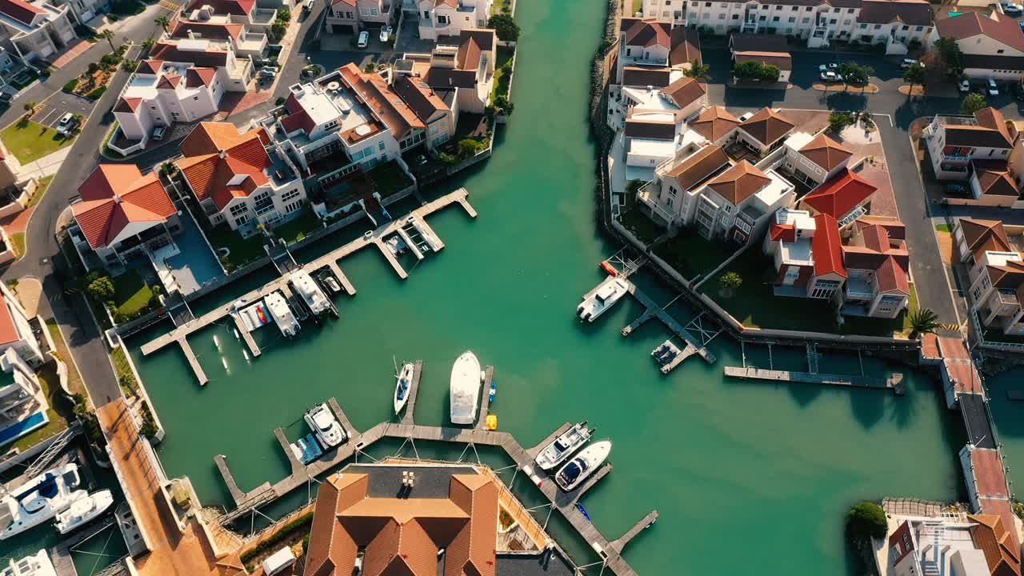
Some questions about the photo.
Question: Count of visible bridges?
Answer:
two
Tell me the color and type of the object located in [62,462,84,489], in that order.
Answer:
white boat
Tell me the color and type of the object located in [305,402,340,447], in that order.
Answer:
white boat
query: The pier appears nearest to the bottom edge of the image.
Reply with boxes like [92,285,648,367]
[48,508,119,576]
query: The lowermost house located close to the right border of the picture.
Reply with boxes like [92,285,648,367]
[890,517,1020,576]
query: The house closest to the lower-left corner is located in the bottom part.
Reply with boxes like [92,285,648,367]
[0,374,53,429]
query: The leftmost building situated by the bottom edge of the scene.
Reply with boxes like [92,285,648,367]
[304,463,580,576]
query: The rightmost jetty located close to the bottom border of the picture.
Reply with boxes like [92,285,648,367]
[272,360,660,576]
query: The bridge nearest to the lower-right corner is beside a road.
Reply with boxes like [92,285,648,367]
[918,332,1017,518]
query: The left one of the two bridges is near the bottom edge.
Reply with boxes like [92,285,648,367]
[93,398,194,554]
